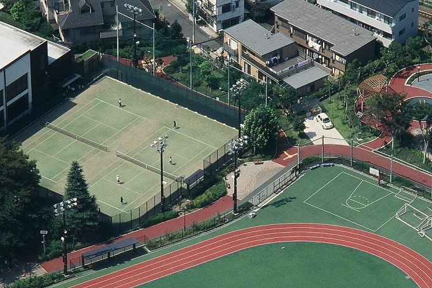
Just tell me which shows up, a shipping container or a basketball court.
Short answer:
basketball court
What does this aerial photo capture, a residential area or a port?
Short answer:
residential area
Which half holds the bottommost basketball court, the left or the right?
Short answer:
right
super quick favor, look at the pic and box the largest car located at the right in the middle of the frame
[315,112,334,129]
